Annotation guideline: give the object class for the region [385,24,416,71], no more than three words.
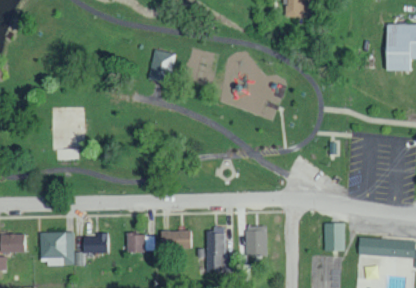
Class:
house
